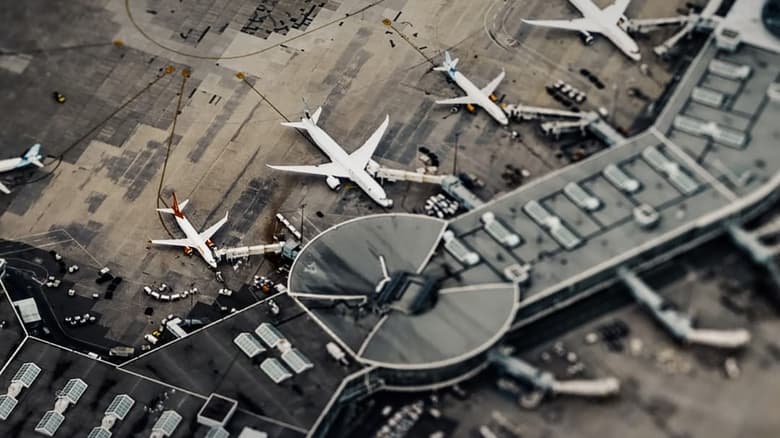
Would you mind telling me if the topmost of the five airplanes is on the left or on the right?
right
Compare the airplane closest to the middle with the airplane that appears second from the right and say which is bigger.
the airplane closest to the middle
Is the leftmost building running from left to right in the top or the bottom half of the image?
bottom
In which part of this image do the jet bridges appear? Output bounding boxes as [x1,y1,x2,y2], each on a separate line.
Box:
[374,169,486,209]
[723,226,780,271]
[617,273,752,355]
[502,104,626,144]
[622,14,719,60]
[213,243,300,269]
[485,350,622,404]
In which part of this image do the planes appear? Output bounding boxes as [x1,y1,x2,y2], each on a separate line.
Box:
[150,199,228,267]
[0,143,48,192]
[522,0,642,59]
[434,55,508,125]
[269,107,393,207]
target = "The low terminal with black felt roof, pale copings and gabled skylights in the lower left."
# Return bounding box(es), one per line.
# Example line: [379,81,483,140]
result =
[0,275,385,438]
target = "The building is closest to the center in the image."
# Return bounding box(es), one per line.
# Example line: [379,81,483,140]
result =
[286,210,519,393]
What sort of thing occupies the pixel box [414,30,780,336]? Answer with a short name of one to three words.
building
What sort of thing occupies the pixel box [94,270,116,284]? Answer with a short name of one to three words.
vehicle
